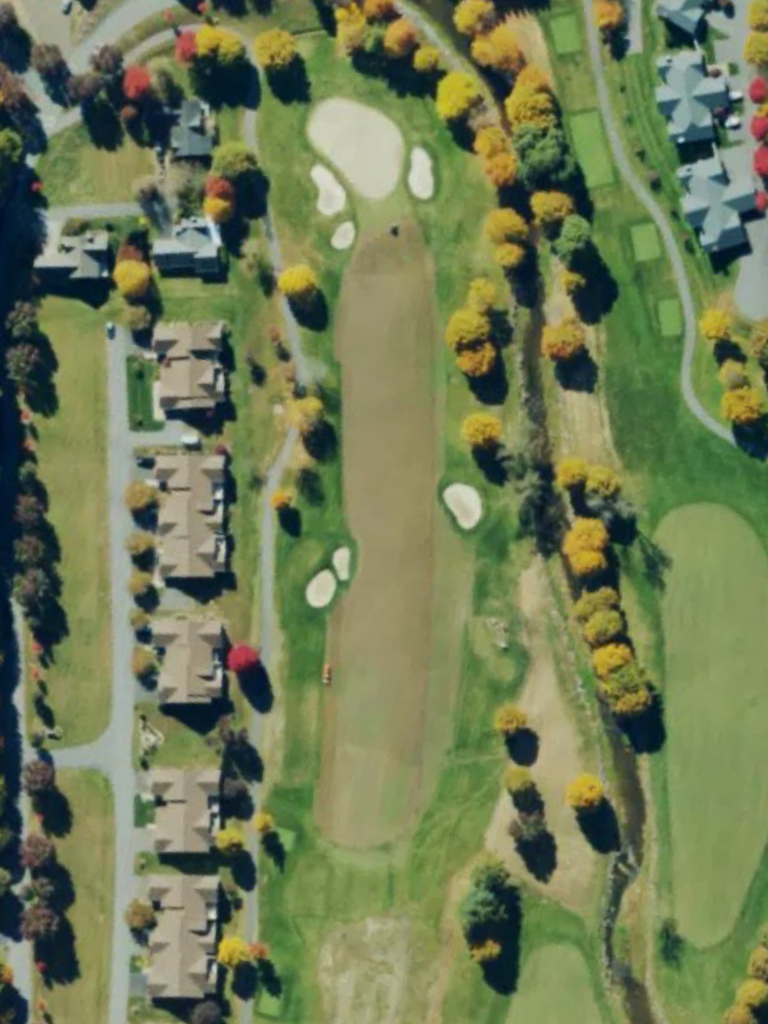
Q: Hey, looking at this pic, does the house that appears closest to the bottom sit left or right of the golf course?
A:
to the left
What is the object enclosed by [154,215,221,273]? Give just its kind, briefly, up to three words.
house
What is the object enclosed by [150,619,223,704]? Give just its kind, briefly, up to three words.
house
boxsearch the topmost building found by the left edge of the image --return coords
[34,231,109,279]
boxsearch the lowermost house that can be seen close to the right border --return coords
[675,160,758,256]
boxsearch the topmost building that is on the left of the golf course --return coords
[171,100,213,157]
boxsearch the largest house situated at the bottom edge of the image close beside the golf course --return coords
[146,875,218,1000]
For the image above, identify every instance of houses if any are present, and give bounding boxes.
[150,768,219,854]
[653,51,731,148]
[171,100,213,157]
[146,875,218,1000]
[150,619,223,704]
[154,215,221,273]
[154,454,224,578]
[34,231,109,279]
[152,320,224,409]
[675,160,758,256]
